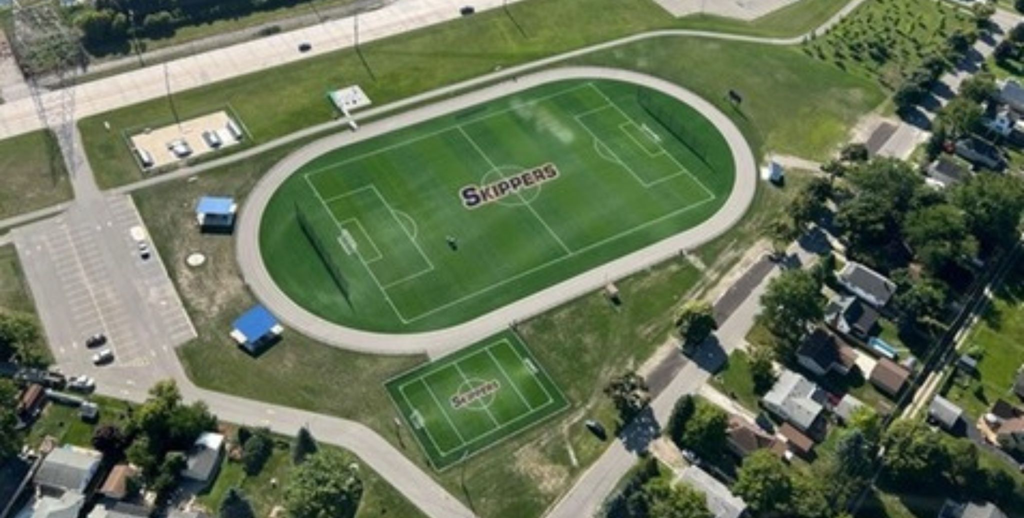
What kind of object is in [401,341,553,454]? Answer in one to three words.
sports field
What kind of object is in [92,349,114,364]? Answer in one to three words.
car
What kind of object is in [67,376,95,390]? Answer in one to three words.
vehicle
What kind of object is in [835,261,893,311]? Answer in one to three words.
house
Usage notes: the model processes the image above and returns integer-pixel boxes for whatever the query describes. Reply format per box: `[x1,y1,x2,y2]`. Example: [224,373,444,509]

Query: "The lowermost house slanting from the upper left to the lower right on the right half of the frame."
[682,465,746,518]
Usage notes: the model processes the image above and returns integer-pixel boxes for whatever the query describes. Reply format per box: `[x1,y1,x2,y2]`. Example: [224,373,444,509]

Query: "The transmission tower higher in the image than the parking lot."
[10,0,69,77]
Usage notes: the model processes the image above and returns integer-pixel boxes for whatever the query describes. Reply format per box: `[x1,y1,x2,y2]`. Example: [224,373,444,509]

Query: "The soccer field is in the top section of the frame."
[306,84,713,323]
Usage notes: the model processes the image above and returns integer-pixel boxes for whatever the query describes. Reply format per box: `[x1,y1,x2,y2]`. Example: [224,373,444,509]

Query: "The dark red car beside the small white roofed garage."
[825,391,841,408]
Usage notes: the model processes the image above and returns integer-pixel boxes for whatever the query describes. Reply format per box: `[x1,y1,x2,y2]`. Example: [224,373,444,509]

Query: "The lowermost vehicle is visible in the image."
[681,448,703,465]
